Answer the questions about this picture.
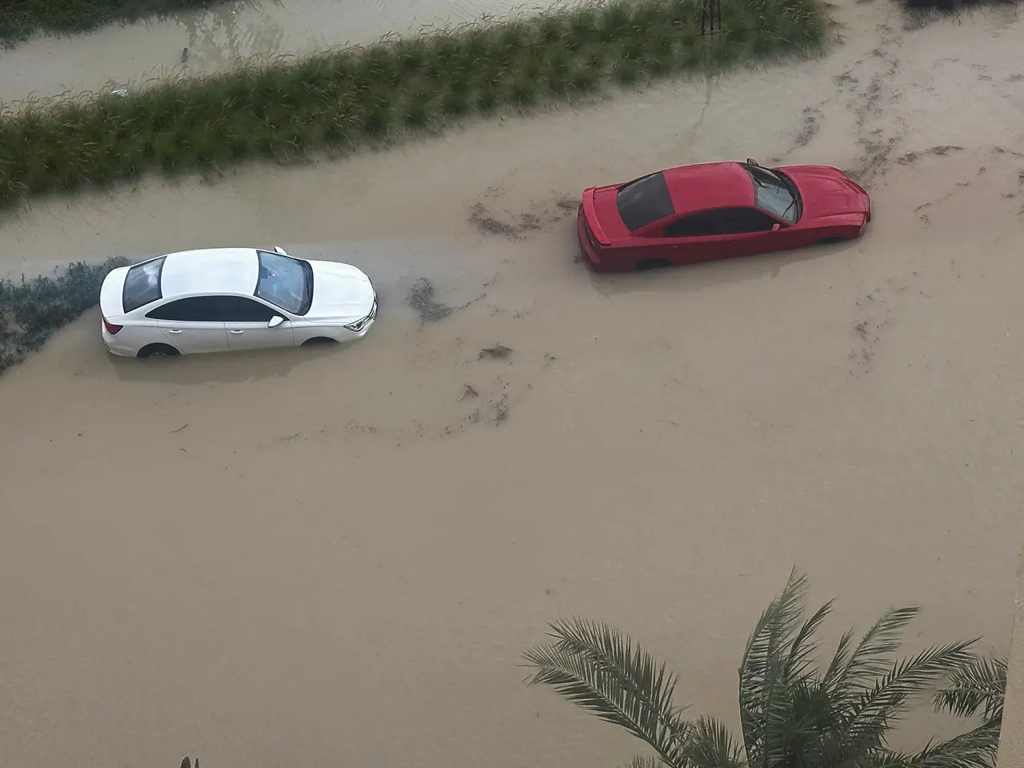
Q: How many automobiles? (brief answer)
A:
2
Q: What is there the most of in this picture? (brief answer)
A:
water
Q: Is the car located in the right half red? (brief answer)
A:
Yes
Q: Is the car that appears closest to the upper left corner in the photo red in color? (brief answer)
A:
No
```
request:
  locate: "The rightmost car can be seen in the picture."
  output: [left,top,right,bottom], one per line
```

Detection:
[576,157,874,274]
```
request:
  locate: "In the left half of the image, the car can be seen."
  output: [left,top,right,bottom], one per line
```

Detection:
[97,245,378,357]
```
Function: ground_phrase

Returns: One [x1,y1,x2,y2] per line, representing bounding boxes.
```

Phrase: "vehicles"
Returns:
[97,245,378,357]
[576,157,874,274]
